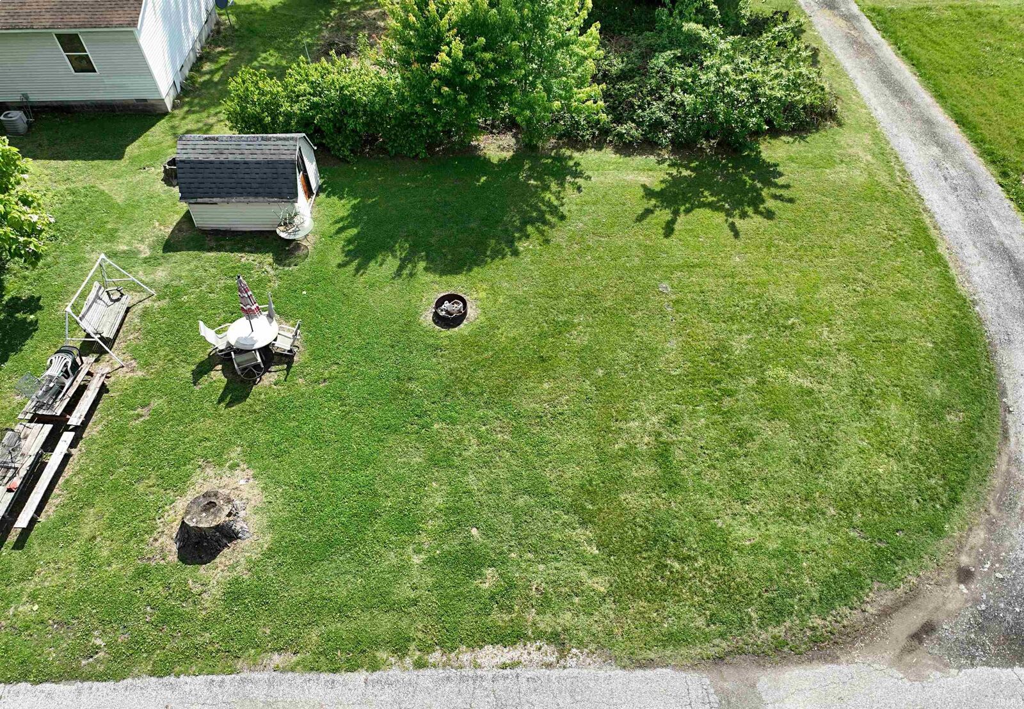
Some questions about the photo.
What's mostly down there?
grass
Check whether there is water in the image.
No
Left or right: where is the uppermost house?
left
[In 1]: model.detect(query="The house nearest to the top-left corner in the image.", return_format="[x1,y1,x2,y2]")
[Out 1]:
[0,0,218,120]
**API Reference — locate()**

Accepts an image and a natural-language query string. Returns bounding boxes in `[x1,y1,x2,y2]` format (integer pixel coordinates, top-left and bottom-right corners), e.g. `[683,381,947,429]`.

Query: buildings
[175,136,319,229]
[0,0,218,120]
